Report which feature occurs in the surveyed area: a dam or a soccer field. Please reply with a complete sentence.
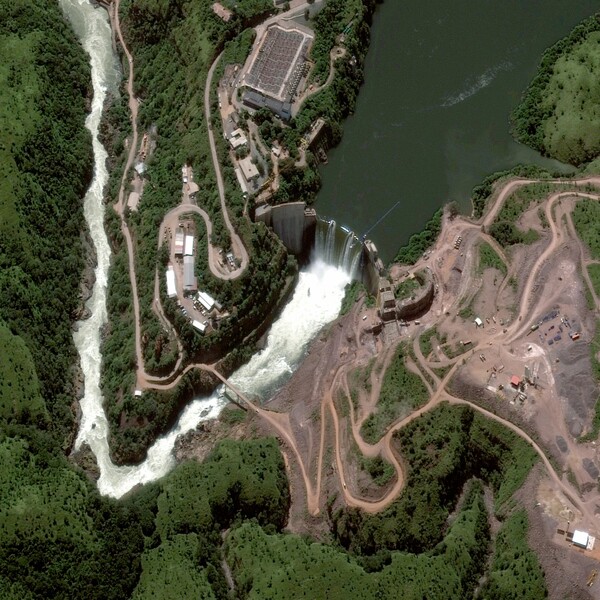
Visible in the photo is a dam.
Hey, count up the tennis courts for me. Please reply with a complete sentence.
The photo contains no tennis courts.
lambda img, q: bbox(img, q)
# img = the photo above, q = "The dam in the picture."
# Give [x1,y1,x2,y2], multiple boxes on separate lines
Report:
[256,200,388,301]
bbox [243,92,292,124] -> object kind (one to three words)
building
